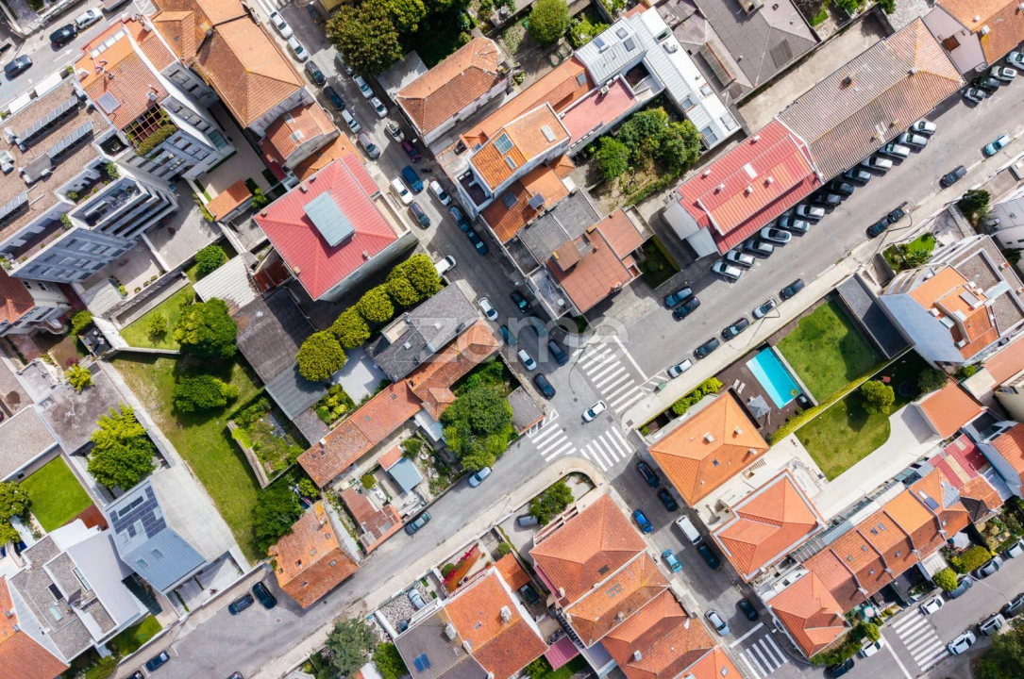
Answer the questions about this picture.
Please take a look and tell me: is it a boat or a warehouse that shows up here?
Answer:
warehouse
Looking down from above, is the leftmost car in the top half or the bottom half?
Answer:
top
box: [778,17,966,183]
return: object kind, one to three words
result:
warehouse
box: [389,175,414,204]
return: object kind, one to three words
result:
car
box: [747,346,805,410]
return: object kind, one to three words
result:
swimming pool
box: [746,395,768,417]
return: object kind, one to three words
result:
umbrella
